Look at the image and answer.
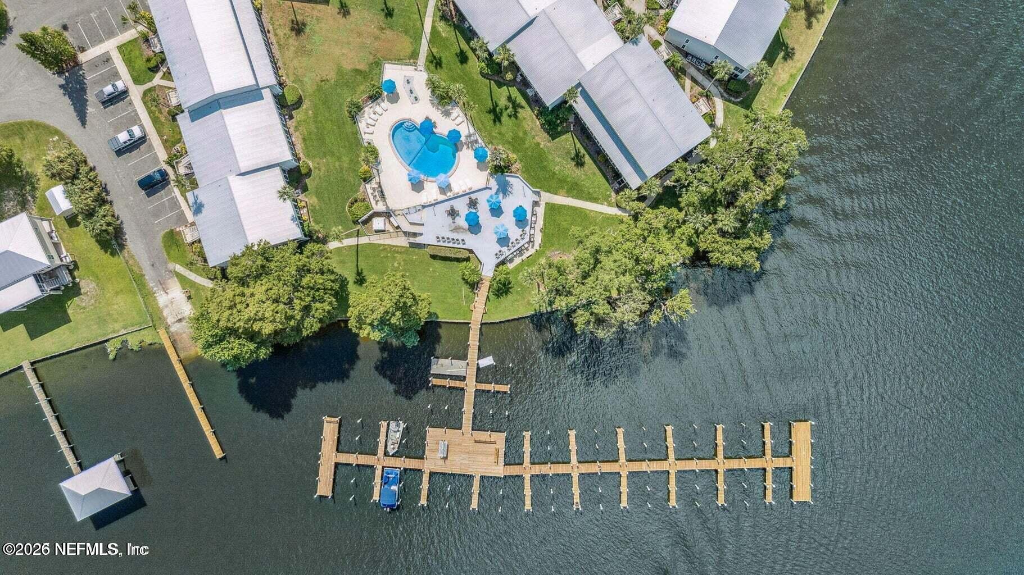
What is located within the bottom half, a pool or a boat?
boat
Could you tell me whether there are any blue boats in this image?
Yes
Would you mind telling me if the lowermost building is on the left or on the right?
left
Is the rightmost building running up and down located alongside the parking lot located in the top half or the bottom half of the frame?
top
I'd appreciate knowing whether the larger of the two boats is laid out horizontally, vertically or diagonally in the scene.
vertically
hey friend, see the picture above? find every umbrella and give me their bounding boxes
[487,194,501,208]
[513,207,527,221]
[435,173,450,188]
[465,211,480,226]
[447,129,461,143]
[420,119,434,134]
[473,147,488,162]
[494,224,509,239]
[382,79,396,93]
[407,170,421,184]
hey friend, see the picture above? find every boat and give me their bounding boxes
[379,467,399,511]
[388,419,404,454]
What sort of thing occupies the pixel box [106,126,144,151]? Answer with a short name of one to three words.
truck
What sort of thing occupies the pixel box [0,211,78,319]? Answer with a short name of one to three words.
house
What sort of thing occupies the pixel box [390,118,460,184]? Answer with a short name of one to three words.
swimming pool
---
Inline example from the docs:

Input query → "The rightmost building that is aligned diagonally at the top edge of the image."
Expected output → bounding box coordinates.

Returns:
[449,0,711,191]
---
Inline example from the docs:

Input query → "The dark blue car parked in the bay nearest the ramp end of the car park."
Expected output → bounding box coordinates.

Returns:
[136,170,167,189]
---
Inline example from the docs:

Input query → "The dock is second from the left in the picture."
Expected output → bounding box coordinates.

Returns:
[155,329,228,459]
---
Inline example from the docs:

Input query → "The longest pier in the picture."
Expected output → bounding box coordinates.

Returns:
[314,275,814,512]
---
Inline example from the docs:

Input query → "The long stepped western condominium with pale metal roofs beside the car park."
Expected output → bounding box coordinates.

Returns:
[148,0,308,267]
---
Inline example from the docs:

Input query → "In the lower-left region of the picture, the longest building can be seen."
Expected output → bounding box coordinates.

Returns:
[59,448,150,522]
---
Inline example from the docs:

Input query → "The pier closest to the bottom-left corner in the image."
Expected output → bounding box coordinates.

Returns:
[18,360,84,475]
